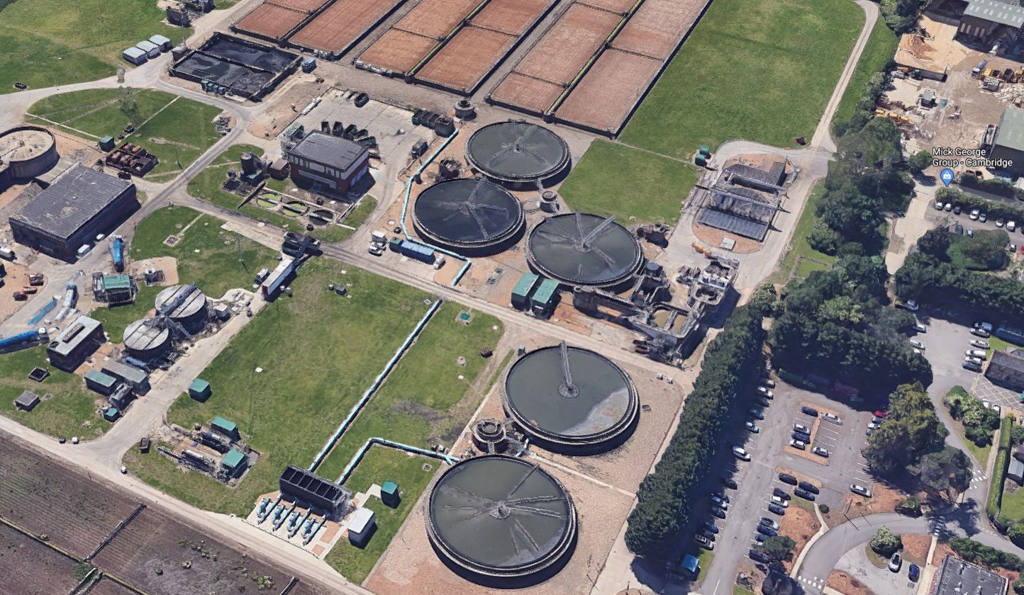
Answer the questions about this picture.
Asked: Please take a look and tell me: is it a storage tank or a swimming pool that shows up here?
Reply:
storage tank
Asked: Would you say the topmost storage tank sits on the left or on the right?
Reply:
left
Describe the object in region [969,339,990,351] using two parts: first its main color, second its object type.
gray vehicle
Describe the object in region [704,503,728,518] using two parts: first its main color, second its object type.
black car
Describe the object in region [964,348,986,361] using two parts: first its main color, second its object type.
white vehicle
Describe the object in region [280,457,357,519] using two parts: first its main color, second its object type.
black storage tank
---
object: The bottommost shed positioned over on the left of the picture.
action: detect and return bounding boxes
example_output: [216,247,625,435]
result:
[348,507,376,543]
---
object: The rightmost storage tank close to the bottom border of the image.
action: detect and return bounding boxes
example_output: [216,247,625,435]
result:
[423,452,578,586]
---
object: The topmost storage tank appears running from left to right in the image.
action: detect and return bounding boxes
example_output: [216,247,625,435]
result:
[170,37,305,100]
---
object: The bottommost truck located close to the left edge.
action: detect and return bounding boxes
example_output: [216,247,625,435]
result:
[0,326,42,348]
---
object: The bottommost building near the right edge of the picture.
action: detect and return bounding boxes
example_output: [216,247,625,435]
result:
[927,552,996,595]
